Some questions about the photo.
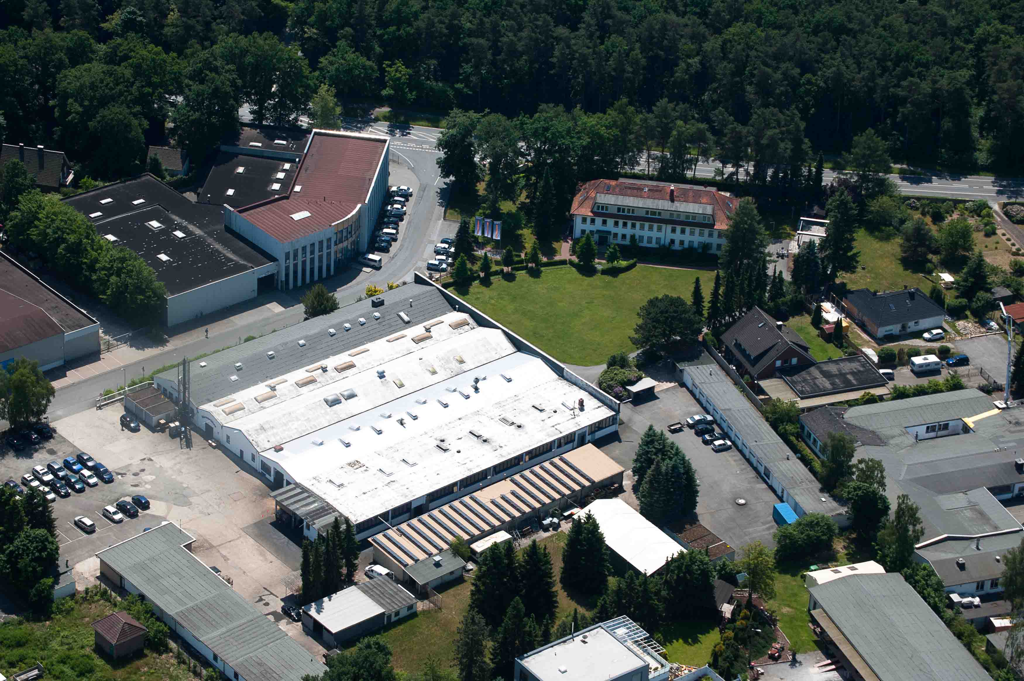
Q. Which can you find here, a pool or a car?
car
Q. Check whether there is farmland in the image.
No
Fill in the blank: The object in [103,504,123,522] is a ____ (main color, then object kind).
white car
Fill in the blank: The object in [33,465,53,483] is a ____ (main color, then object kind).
white car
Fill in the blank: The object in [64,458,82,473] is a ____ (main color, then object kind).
blue car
